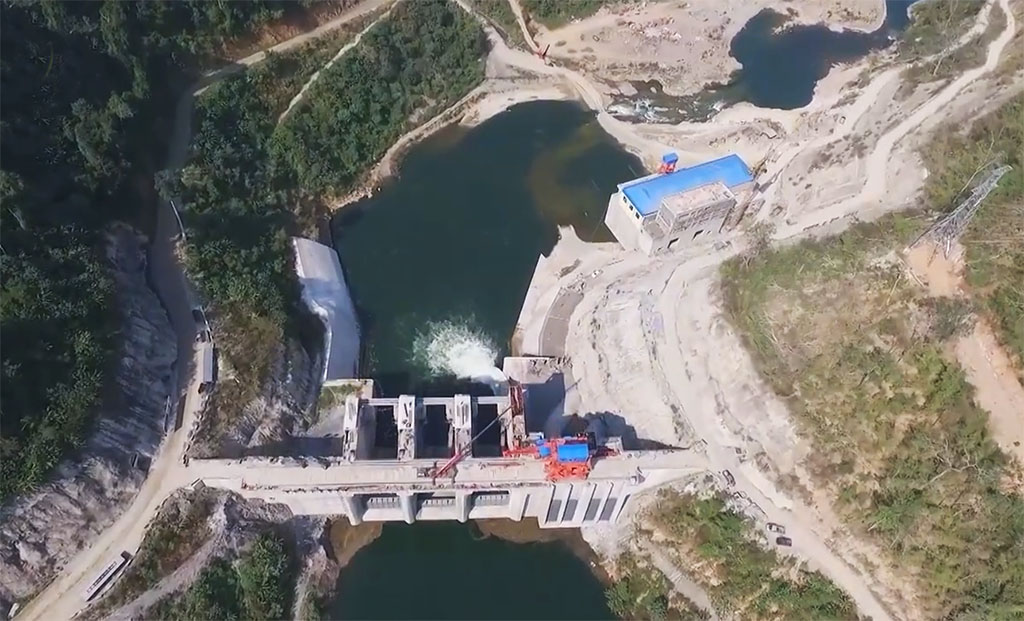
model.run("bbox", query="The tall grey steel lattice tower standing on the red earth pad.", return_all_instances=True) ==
[910,161,1011,265]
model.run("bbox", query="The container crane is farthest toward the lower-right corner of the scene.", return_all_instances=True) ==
[516,439,618,483]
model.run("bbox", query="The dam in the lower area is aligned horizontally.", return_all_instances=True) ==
[187,378,703,530]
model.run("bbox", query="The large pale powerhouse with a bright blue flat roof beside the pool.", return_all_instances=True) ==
[603,150,758,260]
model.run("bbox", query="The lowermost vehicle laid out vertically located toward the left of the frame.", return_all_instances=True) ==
[195,331,211,394]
